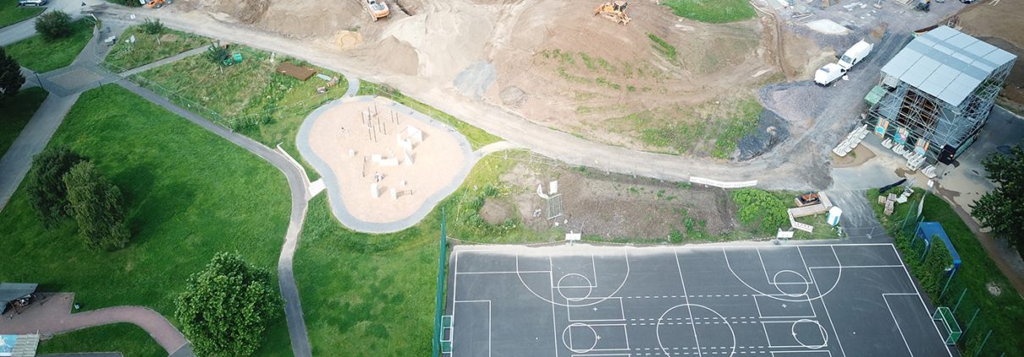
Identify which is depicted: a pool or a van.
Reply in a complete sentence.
Of the two, only a van appears.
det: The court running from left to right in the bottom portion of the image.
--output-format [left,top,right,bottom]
[434,239,964,357]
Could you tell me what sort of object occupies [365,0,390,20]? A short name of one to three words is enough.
work vehicle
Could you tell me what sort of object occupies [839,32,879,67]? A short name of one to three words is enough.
van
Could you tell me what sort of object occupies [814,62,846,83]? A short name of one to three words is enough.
vehicle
